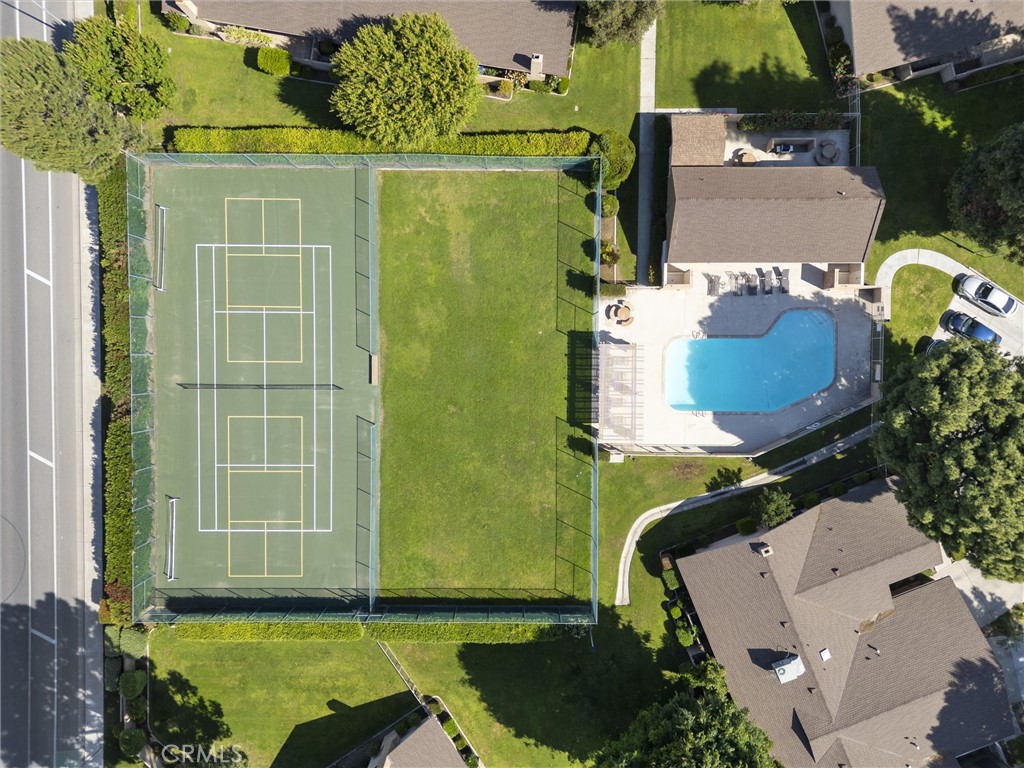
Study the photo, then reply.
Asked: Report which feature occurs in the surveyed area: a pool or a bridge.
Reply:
pool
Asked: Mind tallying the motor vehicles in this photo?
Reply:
three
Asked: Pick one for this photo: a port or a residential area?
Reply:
residential area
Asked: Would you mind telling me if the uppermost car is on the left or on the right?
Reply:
right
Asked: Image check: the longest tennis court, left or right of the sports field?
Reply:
on the left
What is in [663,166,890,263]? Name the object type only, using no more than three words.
building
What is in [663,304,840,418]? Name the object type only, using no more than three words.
swimming pool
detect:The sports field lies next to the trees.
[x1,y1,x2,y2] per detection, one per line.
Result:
[380,170,593,604]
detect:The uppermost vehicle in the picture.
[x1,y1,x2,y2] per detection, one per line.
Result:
[953,276,1015,320]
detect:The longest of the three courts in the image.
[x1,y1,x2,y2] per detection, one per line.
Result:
[154,168,381,605]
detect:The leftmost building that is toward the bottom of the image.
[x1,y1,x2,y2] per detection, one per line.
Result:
[330,710,468,768]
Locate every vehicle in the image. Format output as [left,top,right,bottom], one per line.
[940,311,999,351]
[953,276,1015,320]
[913,341,961,374]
